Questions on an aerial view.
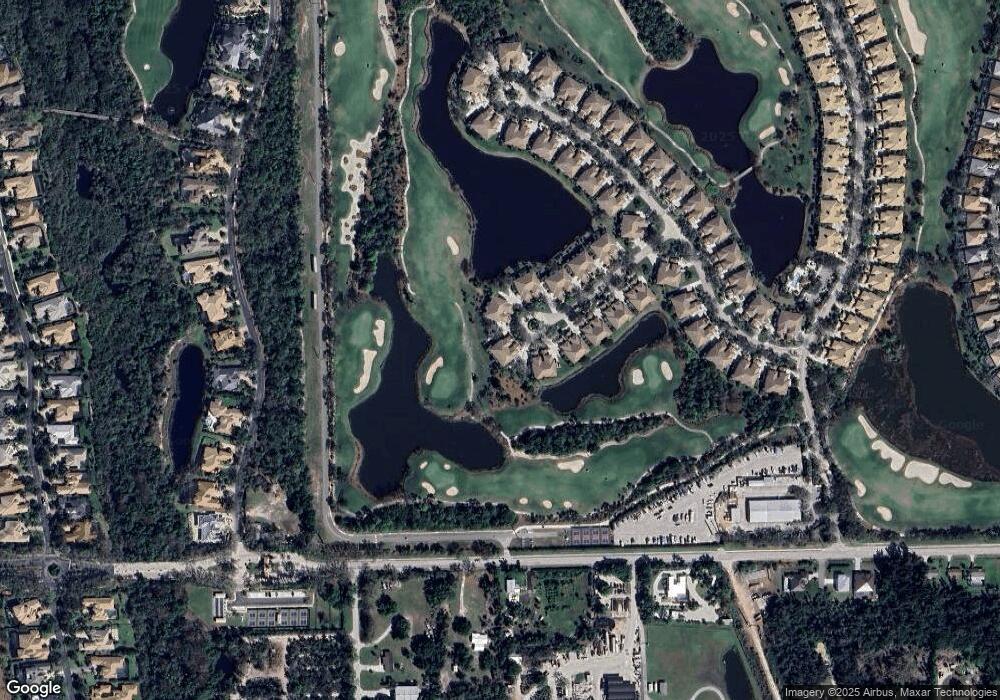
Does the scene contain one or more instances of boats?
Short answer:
No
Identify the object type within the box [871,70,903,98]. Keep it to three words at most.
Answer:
house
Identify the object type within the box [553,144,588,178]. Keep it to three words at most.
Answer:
house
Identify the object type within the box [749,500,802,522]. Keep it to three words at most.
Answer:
building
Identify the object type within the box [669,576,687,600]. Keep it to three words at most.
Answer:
building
